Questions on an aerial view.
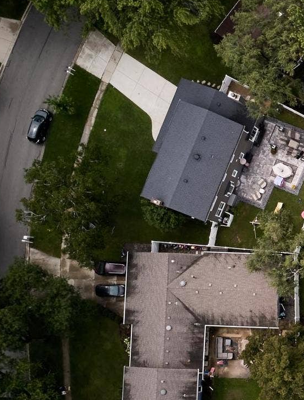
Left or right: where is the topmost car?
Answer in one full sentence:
The topmost car appears in the left half of the scene.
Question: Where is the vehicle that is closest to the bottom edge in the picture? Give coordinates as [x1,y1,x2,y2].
[92,281,128,299]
